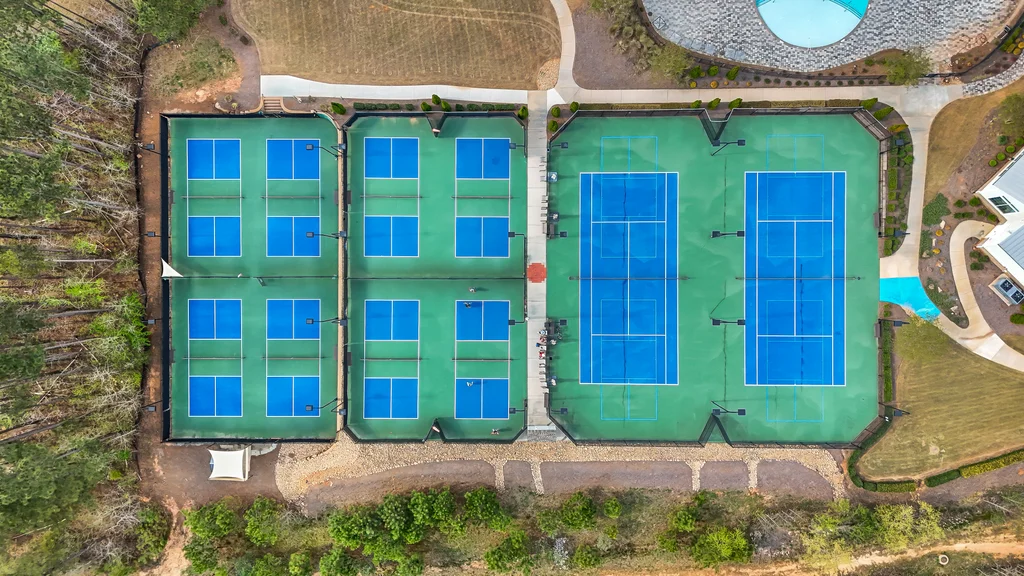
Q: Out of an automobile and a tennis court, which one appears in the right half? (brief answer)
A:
tennis court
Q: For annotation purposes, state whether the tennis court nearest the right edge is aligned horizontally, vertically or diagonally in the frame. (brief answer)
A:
vertically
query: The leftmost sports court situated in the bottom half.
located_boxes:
[188,299,242,417]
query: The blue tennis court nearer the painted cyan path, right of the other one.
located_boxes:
[745,135,847,422]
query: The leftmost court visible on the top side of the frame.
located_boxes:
[187,138,241,257]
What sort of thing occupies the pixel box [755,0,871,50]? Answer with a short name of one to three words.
swimming pool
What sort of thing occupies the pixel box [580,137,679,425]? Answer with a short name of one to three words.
tennis court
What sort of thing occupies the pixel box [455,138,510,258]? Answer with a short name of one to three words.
sports court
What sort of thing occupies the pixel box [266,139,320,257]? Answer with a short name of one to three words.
sports court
